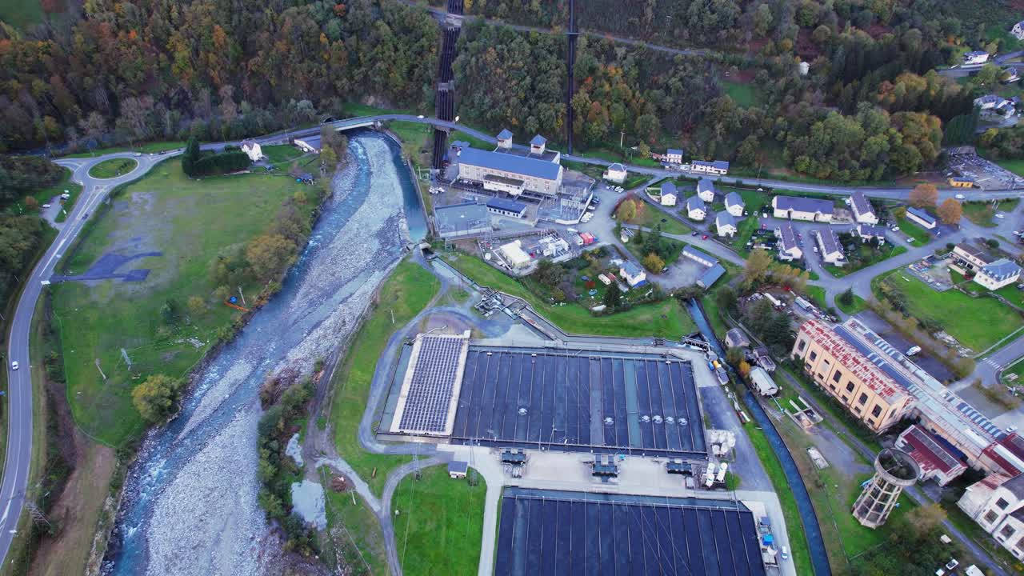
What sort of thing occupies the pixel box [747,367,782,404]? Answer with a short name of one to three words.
barn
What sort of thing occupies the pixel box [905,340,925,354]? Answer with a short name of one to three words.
vehicle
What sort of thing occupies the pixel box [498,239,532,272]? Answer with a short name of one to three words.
building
